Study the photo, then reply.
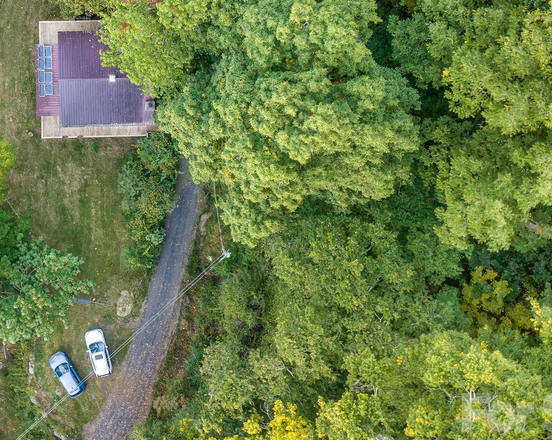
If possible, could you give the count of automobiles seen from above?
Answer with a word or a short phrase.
2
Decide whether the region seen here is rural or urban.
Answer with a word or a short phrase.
rural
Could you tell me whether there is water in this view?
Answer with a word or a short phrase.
No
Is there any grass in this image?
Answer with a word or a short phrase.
Yes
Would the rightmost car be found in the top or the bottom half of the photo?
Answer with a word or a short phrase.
bottom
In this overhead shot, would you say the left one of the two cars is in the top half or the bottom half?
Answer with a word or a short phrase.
bottom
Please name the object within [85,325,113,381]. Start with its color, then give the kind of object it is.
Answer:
white car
